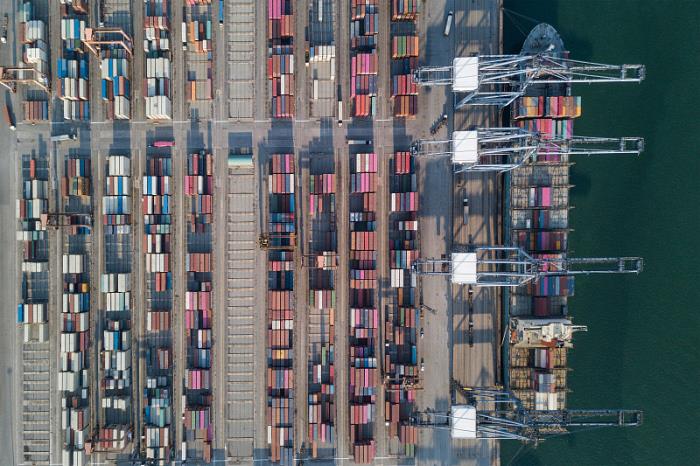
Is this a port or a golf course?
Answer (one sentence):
The area seen from above is a port.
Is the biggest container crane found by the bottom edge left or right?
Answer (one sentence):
The biggest container crane found by the bottom edge sits on the right side.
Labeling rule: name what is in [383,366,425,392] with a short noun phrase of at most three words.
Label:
container crane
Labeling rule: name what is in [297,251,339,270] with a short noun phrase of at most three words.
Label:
container crane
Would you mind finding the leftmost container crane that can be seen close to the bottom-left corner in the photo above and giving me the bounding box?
[79,424,134,454]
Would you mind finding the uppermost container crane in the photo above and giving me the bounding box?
[79,27,134,57]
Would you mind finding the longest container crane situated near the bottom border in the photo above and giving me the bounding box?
[407,370,649,445]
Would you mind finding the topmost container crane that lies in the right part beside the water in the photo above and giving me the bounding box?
[407,51,649,118]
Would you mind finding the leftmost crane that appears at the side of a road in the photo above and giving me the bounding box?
[0,67,51,94]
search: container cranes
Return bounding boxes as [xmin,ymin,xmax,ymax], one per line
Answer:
[407,128,649,180]
[407,241,649,286]
[0,67,51,94]
[383,366,425,392]
[79,424,134,454]
[34,211,93,230]
[297,251,339,270]
[253,233,297,251]
[407,370,649,445]
[407,51,649,118]
[79,27,134,57]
